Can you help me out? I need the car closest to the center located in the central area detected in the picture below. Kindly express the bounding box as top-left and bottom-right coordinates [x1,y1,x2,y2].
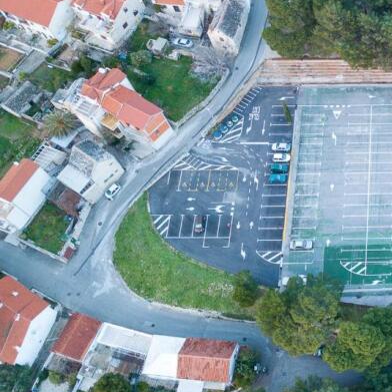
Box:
[192,212,205,232]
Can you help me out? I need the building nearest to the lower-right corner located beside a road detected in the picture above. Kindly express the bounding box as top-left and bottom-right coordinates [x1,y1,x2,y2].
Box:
[176,338,239,392]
